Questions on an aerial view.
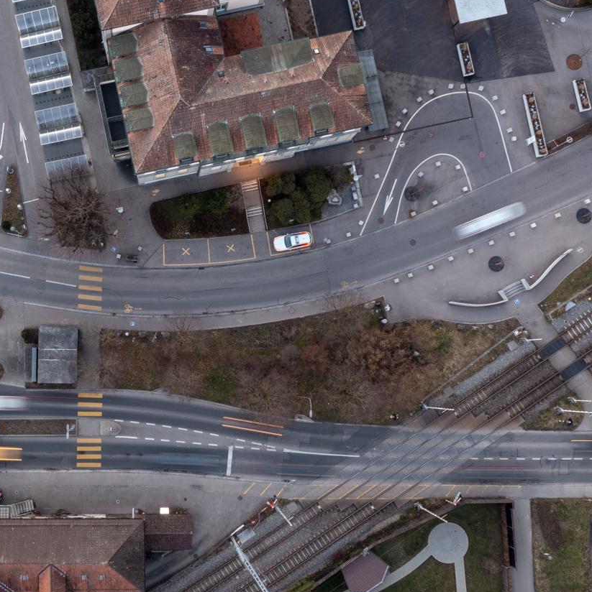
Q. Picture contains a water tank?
No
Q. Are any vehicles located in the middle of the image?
Yes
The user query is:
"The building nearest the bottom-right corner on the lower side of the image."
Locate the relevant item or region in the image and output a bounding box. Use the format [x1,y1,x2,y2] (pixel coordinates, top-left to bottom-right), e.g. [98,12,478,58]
[340,548,391,592]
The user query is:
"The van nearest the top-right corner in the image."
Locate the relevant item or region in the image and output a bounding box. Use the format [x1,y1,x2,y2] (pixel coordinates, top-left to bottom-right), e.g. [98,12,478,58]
[466,207,509,235]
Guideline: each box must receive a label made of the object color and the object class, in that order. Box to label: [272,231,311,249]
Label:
white car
